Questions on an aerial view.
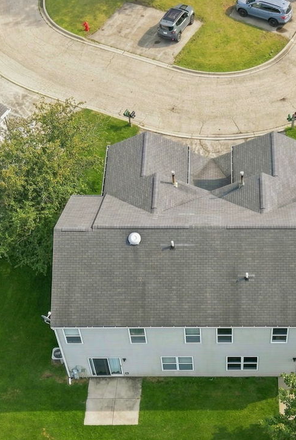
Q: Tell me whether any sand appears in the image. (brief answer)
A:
No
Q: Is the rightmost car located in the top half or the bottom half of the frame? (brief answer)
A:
top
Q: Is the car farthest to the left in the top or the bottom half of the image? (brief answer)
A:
top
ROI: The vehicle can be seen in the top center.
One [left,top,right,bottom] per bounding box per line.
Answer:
[155,6,196,44]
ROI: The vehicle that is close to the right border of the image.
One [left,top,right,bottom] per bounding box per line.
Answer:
[233,0,295,27]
